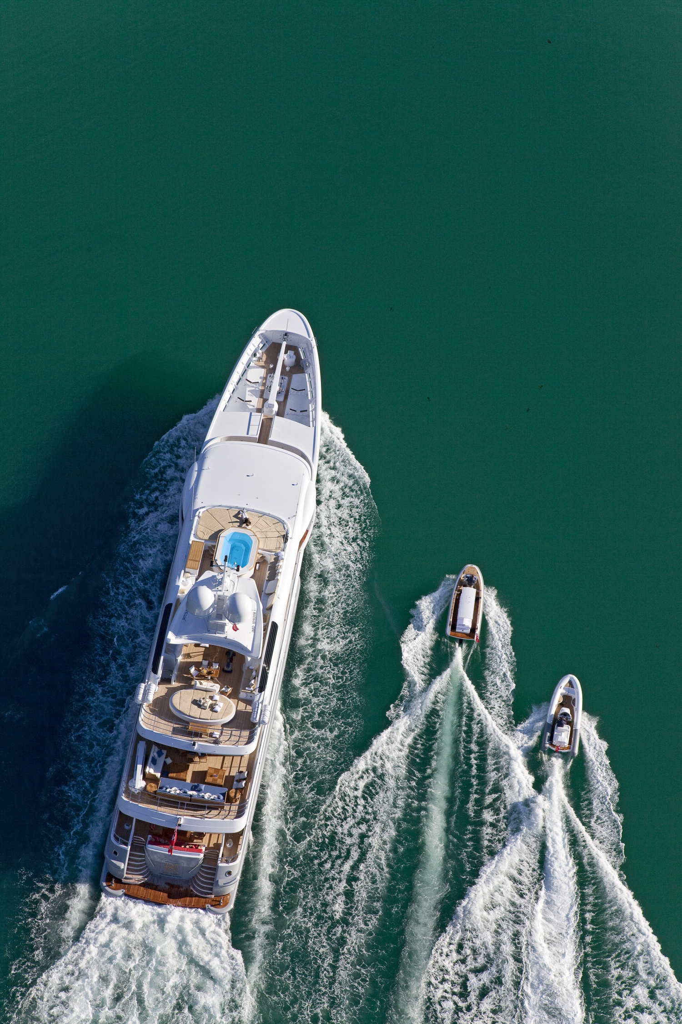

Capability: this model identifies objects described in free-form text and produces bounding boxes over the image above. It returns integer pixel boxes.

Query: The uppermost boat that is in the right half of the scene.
[445,564,485,647]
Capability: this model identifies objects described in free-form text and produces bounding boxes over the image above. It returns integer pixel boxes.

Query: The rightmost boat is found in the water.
[542,674,582,761]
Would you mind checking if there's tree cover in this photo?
No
